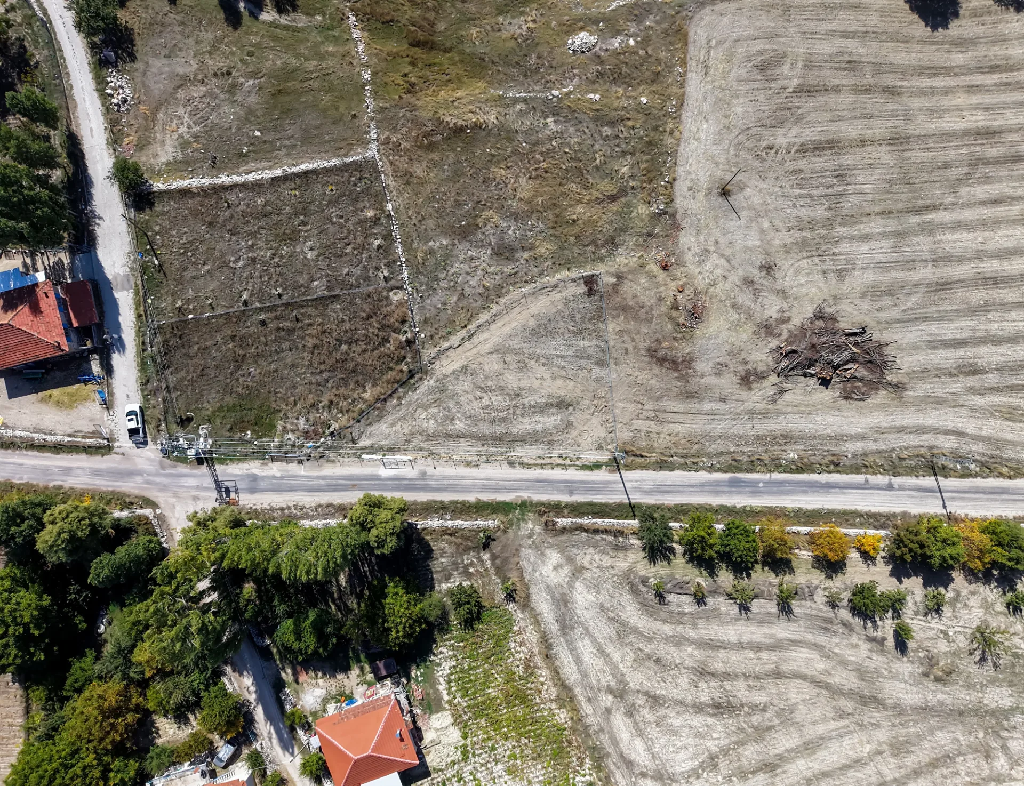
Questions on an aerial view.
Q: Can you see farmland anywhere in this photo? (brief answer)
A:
Yes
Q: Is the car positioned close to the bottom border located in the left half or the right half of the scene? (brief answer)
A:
left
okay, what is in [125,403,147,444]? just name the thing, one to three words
truck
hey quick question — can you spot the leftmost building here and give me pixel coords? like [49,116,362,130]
[0,280,79,372]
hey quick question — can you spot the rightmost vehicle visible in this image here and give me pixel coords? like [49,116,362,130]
[214,736,238,768]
